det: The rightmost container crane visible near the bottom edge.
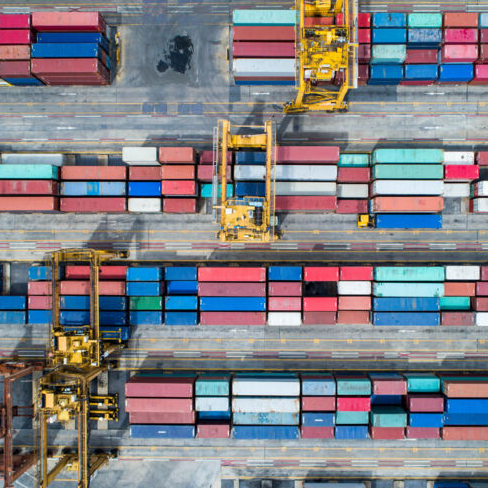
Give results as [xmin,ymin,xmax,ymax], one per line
[34,361,123,488]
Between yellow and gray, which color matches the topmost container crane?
yellow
